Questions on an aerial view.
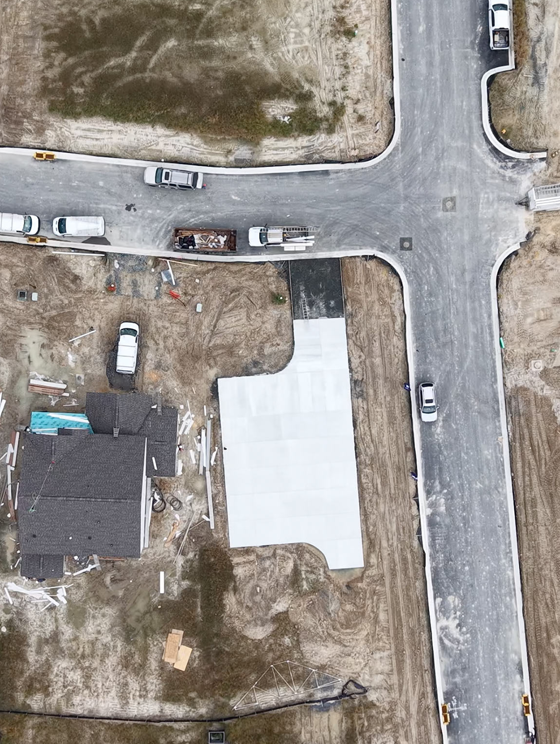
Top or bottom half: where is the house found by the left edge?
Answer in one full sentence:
You can find the house found by the left edge in the bottom half.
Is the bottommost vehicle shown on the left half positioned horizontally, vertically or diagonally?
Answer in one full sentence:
The bottommost vehicle shown on the left half has been laid out vertically relative to the frame.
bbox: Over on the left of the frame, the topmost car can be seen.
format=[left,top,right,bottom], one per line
[144,165,204,191]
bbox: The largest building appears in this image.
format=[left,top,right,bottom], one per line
[18,393,179,578]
